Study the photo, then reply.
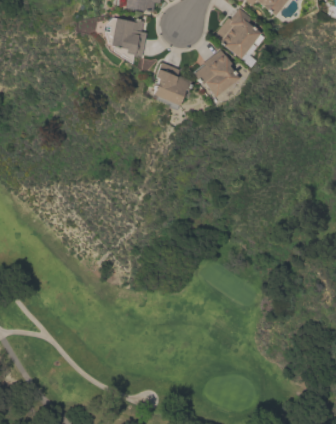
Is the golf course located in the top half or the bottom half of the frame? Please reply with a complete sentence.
The bottom half of the photo is where the golf course is.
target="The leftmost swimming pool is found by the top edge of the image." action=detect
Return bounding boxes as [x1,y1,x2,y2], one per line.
[276,0,302,22]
